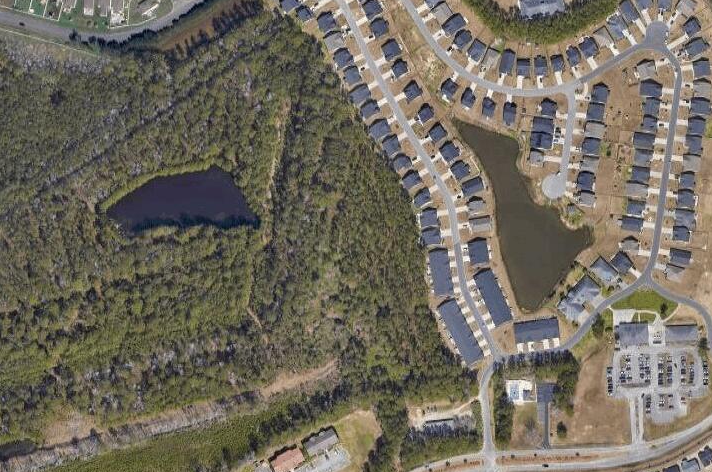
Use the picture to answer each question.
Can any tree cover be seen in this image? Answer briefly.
Yes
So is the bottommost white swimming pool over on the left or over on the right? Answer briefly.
right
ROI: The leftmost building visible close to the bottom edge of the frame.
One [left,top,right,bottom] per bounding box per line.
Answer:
[271,447,305,472]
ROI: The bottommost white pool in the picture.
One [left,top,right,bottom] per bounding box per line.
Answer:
[506,380,536,402]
